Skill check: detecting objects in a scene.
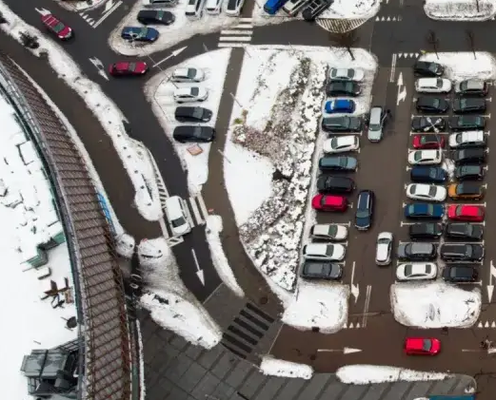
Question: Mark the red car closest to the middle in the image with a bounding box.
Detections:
[313,193,347,211]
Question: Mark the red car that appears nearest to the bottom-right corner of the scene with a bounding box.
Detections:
[403,336,442,356]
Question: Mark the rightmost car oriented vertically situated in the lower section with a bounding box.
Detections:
[375,228,395,269]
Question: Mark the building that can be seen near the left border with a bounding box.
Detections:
[0,47,132,400]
